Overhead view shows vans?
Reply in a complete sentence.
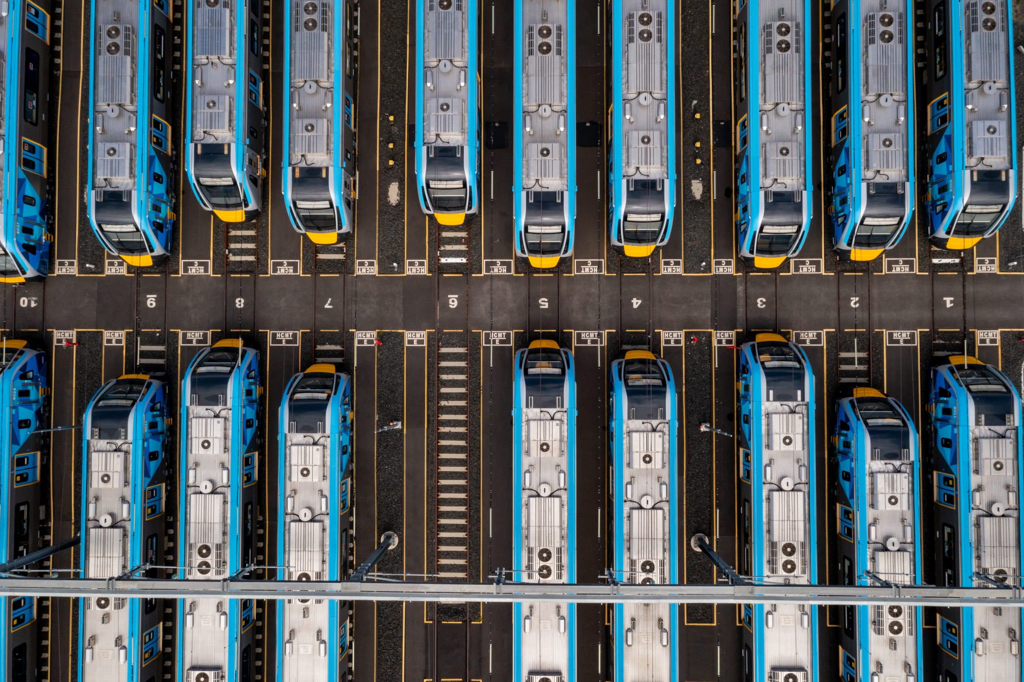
No, I find no van anywhere in the image.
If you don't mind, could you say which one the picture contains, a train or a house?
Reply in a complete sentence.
It is a train that can be seen here.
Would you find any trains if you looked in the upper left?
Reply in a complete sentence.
Yes, you'll find a train in the upper left.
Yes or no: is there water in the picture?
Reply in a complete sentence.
No, no water is visible.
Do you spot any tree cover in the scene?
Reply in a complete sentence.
No, the scene doesn't show any tree cover.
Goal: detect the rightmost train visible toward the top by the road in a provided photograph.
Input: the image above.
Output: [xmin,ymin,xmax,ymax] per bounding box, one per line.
[920,0,1017,250]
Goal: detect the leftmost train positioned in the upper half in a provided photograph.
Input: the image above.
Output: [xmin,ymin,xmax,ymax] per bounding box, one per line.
[0,0,58,289]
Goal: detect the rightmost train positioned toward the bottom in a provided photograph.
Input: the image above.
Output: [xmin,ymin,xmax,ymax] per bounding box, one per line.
[924,354,1024,682]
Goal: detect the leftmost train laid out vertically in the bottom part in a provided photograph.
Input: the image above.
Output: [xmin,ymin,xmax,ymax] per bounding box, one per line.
[0,338,52,682]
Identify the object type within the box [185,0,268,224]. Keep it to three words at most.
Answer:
train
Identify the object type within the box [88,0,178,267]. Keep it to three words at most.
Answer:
train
